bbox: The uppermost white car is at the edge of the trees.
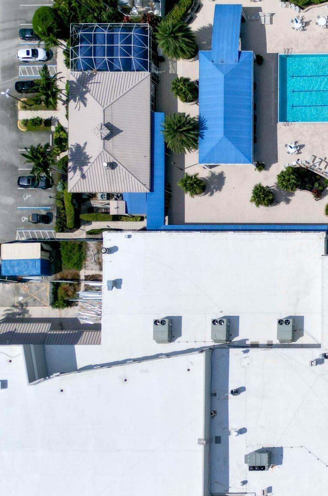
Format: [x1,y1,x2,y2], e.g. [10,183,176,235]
[13,45,46,62]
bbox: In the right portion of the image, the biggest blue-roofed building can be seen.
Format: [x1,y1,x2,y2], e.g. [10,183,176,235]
[199,50,259,168]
